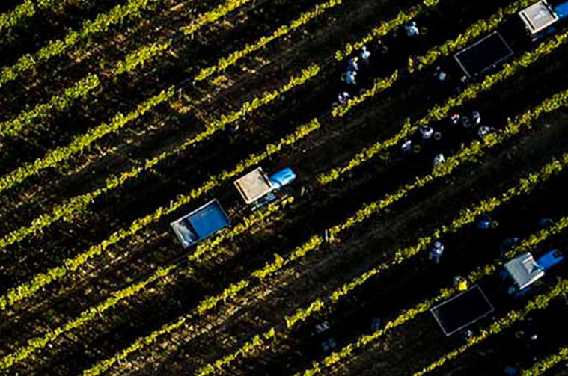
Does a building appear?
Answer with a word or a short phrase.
No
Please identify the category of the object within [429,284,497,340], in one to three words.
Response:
trailer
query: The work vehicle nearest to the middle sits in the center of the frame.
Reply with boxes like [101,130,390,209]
[231,166,295,214]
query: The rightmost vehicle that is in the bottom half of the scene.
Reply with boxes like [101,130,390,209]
[497,253,562,300]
